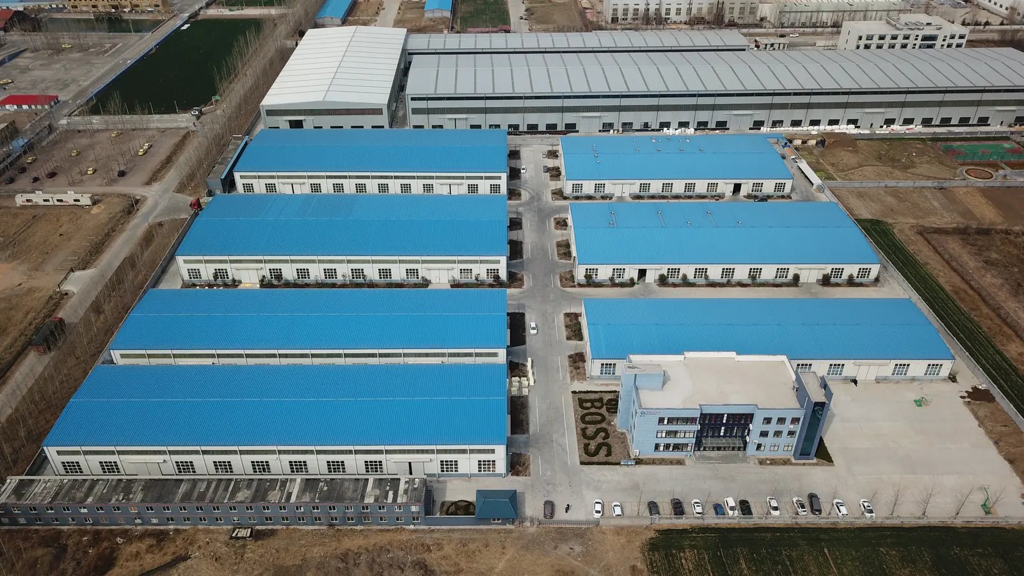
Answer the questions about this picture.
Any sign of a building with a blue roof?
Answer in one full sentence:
Yes, I can see a building with a blue roof in this picture.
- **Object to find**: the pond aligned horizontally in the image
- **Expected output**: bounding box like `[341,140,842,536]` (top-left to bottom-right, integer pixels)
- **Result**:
[33,17,163,33]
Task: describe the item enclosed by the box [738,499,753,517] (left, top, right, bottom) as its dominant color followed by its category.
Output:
black car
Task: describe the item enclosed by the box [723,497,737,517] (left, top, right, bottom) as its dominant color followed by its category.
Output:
white car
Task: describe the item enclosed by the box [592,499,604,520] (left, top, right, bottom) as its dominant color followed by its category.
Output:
white vehicle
